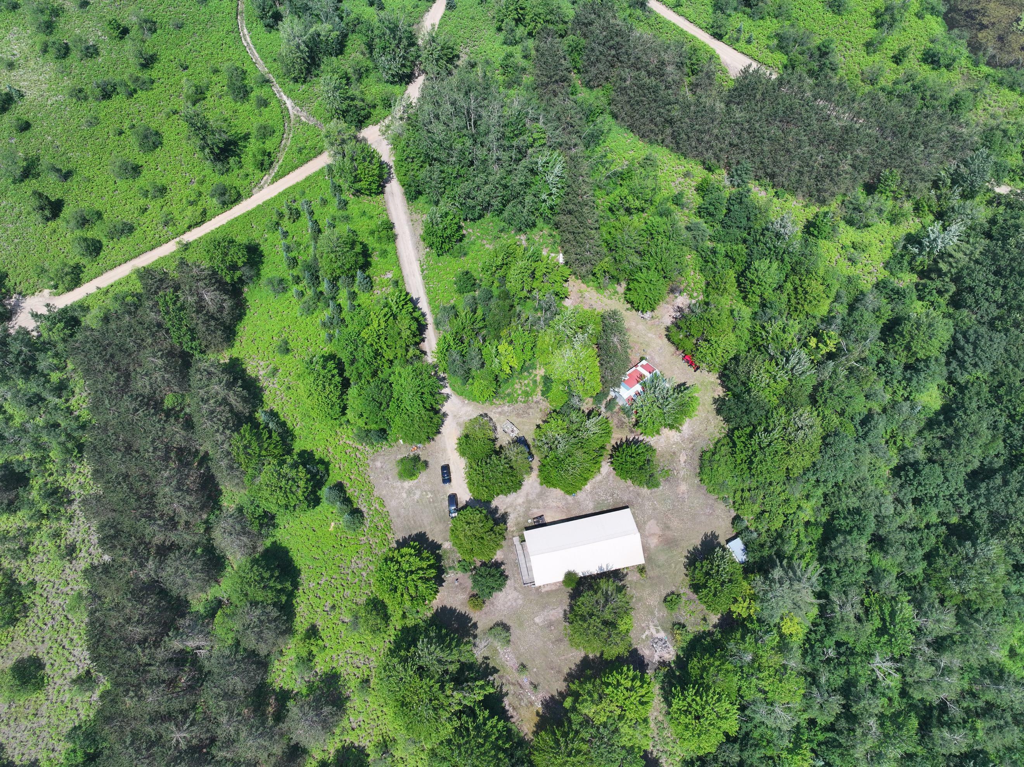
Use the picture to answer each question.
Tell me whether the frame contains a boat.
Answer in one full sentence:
No, no boat is visible in the view.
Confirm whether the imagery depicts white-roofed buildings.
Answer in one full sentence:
Yes, a white-roofed building appears in the view.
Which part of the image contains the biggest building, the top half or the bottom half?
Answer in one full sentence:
The bottom half of the photo is where the biggest building is.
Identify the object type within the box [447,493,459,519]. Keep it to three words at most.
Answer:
vehicle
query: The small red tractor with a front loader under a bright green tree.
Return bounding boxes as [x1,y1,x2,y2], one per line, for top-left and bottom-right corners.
[677,354,698,373]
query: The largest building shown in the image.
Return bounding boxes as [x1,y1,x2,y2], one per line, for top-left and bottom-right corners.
[523,508,645,587]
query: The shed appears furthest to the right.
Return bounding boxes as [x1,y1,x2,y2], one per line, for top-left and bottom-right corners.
[727,537,751,563]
